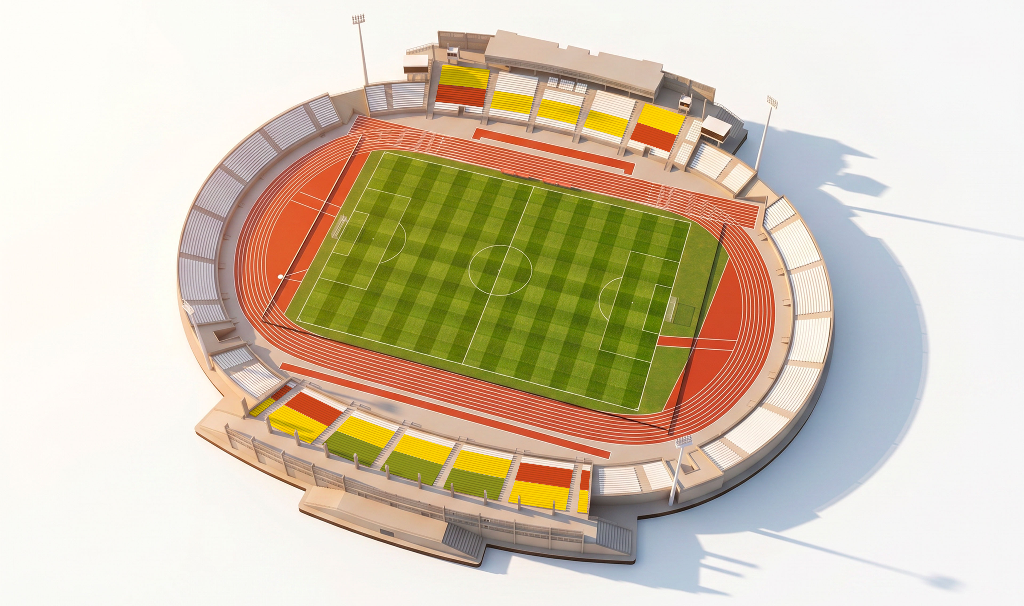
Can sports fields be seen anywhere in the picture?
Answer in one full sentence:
Yes, the photo shows a sports field.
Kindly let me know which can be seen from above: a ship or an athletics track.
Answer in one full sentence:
This aerial view contains an athletics track.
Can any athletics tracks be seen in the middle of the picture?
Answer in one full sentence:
Yes, there is an athletics track in the middle of the picture.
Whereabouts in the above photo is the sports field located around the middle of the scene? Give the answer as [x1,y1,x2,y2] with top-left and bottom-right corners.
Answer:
[297,151,691,410]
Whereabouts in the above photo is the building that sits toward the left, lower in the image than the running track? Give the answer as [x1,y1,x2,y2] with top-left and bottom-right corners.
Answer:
[308,491,481,558]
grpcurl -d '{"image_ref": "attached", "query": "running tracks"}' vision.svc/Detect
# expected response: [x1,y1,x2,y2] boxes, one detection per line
[233,122,776,445]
